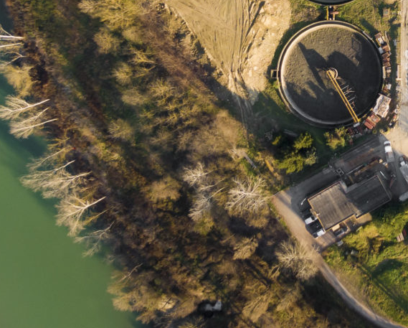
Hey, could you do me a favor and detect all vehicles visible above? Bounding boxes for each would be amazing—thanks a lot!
[298,208,314,219]
[307,222,323,233]
[398,159,408,183]
[303,215,319,228]
[382,141,393,163]
[311,228,327,240]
